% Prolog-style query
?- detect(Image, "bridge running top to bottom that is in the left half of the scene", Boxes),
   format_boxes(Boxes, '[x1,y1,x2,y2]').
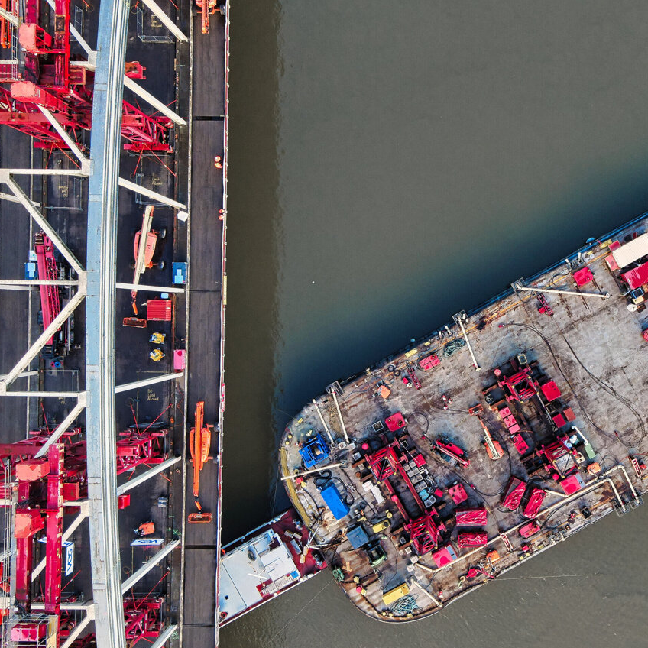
[0,0,233,648]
